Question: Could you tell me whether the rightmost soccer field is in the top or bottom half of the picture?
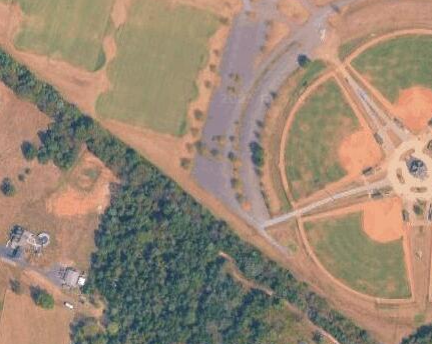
top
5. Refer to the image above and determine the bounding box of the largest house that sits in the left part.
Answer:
[9,230,39,255]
